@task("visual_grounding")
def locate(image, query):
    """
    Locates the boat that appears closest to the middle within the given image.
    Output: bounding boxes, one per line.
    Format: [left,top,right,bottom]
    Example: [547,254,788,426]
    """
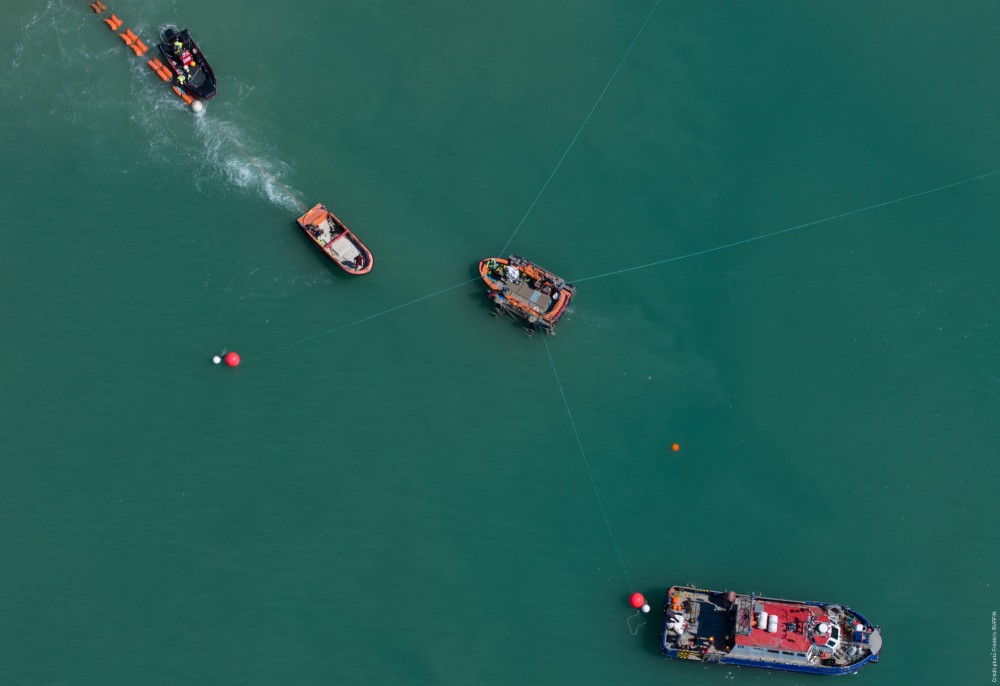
[479,254,576,335]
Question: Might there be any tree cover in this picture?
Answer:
No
